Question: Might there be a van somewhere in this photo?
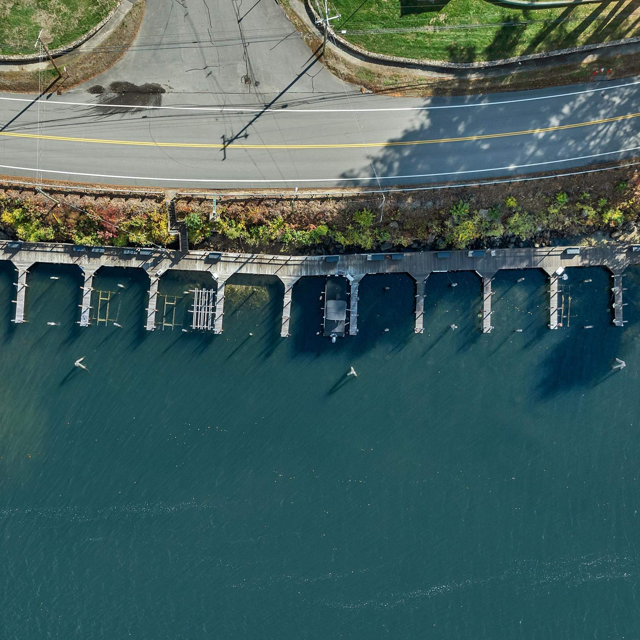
No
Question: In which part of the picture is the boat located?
center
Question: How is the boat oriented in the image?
up and down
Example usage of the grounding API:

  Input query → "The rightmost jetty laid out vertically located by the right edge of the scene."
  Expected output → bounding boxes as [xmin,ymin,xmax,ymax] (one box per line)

[605,264,629,327]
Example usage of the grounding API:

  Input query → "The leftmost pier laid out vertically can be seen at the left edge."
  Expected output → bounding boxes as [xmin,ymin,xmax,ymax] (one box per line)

[10,261,36,323]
